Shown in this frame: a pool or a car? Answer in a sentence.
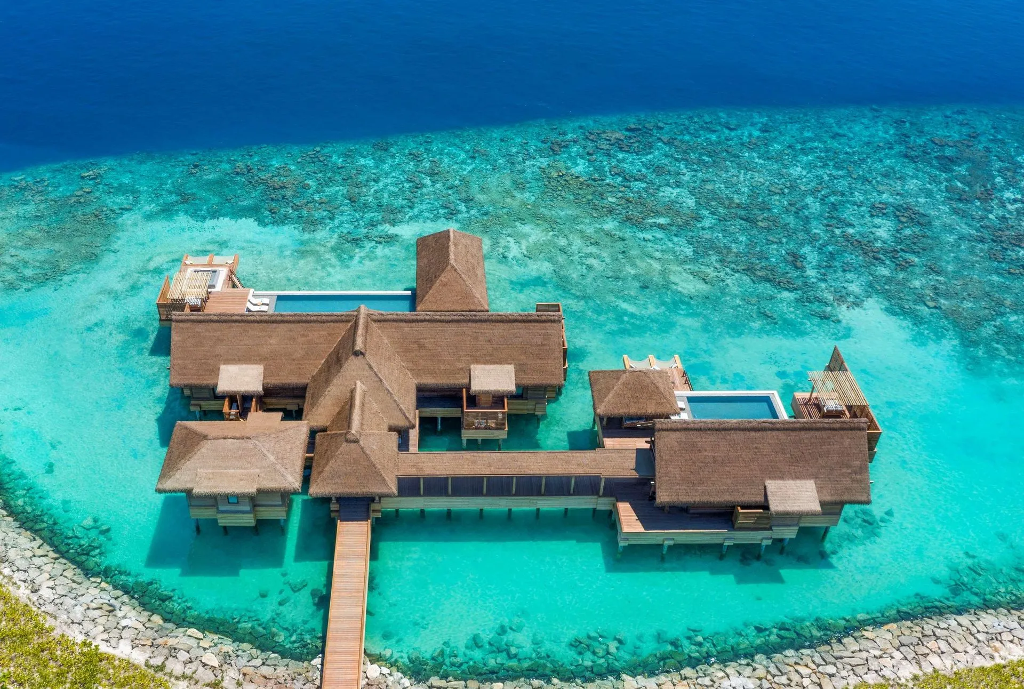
This aerial view contains a pool.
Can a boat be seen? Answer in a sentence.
No, I can see no boat in this picture.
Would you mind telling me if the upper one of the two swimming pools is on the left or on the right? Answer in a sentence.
The upper one of the two swimming pools sits on the left side.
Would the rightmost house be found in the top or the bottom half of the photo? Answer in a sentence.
The rightmost house is in the bottom half of the image.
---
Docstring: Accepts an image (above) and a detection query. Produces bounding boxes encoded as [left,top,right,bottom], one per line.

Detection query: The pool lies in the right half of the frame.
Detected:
[667,391,789,421]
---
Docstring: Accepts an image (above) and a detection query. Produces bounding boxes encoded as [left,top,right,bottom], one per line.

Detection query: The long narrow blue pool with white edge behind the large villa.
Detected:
[244,291,415,316]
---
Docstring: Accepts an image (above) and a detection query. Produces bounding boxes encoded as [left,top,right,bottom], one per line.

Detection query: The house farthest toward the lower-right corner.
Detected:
[638,418,876,563]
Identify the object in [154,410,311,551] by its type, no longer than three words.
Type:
building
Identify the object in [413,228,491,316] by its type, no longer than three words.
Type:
shed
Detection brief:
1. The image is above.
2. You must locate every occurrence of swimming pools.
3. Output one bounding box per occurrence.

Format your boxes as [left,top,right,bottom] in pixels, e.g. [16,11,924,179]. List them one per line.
[244,291,415,316]
[667,391,789,421]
